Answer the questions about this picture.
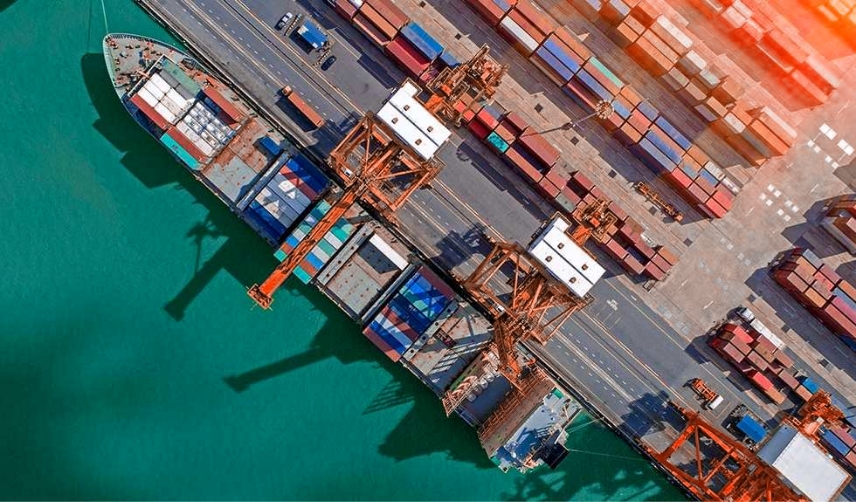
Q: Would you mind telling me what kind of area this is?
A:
port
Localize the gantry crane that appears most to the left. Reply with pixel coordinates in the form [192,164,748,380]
[242,23,499,318]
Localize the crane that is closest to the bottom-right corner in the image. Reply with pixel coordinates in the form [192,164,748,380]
[635,387,856,502]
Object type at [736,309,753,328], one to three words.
vehicle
